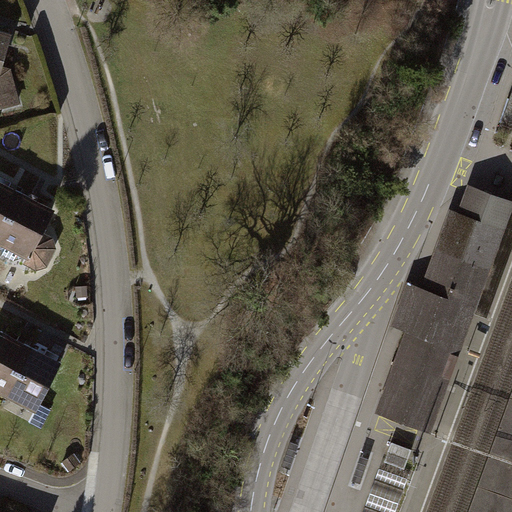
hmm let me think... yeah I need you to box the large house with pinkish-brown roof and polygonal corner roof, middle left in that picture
[0,184,55,271]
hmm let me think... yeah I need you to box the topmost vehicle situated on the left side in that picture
[96,126,109,149]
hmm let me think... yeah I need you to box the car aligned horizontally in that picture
[4,464,26,477]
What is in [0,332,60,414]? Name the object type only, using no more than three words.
house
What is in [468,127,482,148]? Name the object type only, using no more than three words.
vehicle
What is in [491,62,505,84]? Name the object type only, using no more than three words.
car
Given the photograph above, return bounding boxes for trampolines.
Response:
[2,132,20,150]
